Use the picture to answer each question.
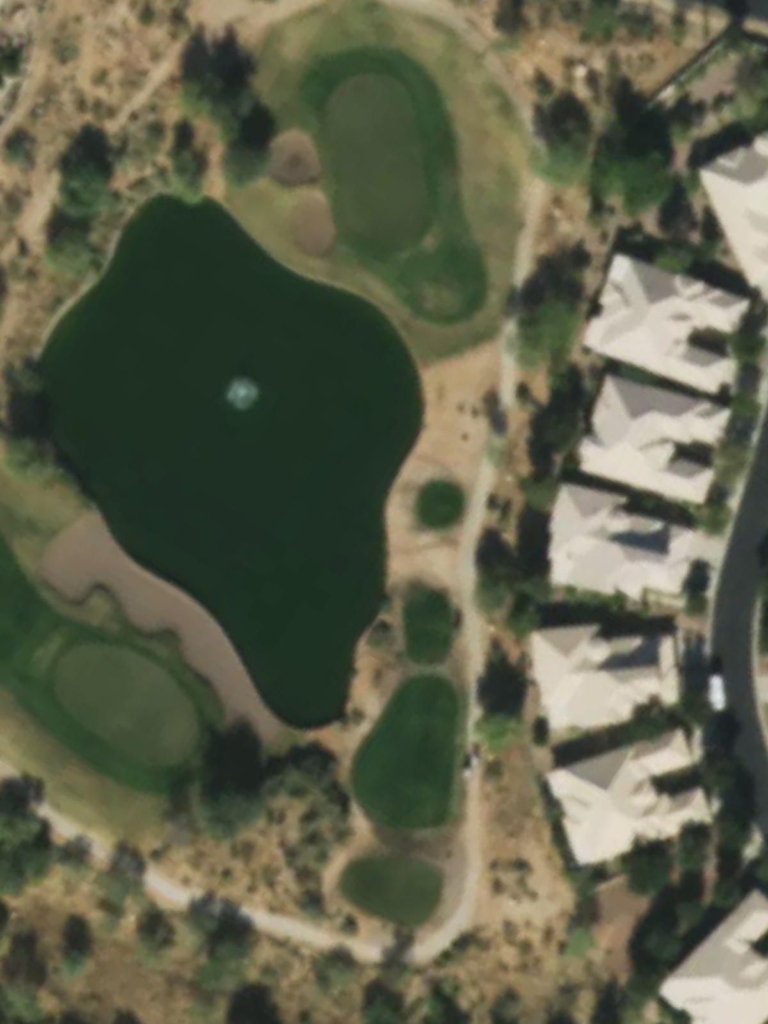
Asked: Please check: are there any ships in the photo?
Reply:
No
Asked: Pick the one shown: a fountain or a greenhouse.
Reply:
fountain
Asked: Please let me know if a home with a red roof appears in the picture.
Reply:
No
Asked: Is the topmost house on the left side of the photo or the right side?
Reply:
right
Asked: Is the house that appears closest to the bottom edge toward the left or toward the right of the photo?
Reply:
right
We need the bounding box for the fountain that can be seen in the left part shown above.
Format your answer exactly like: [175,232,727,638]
[224,374,259,409]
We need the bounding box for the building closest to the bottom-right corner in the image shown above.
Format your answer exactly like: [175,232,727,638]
[661,890,768,1024]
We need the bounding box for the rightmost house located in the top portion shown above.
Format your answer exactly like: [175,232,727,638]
[702,130,768,288]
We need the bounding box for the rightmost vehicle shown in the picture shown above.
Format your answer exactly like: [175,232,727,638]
[708,676,726,710]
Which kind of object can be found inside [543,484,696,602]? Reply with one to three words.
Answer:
house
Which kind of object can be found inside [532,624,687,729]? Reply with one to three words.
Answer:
house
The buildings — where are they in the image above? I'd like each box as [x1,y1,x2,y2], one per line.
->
[547,731,713,868]
[543,484,696,602]
[581,374,731,504]
[532,624,687,729]
[702,130,768,288]
[661,890,768,1024]
[584,254,749,395]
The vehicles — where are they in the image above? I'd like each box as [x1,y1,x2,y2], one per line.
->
[708,676,726,710]
[470,754,479,770]
[462,766,471,783]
